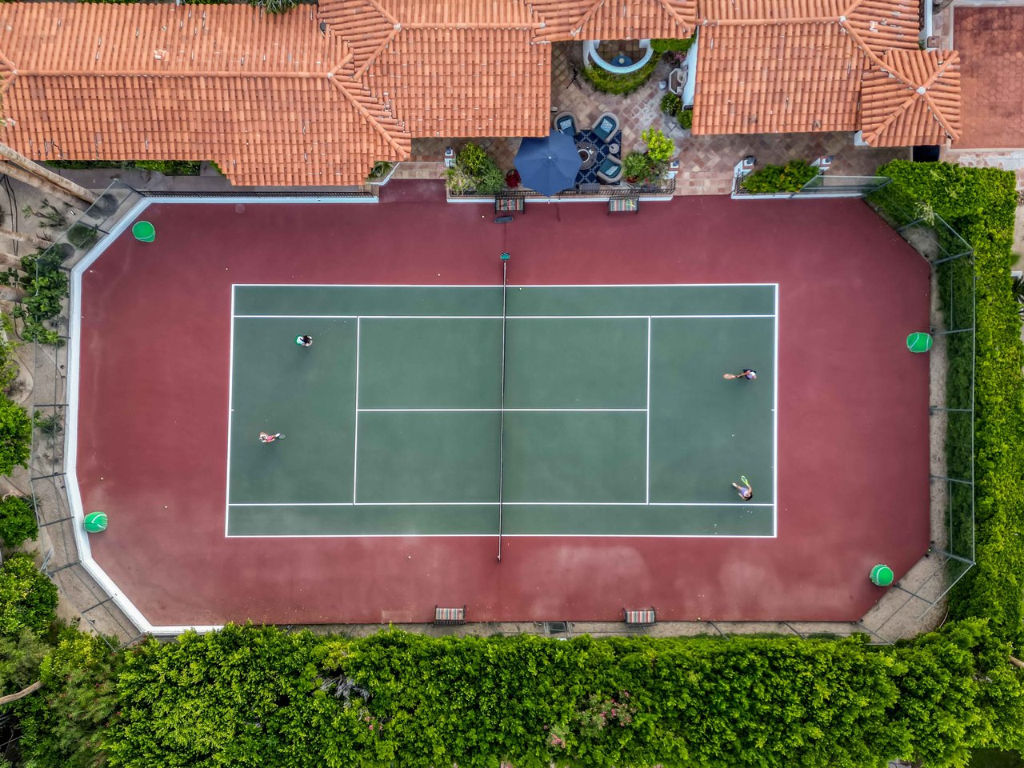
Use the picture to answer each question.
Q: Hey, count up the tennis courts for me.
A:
1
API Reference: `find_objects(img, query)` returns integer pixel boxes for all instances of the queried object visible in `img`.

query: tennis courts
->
[76,180,932,626]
